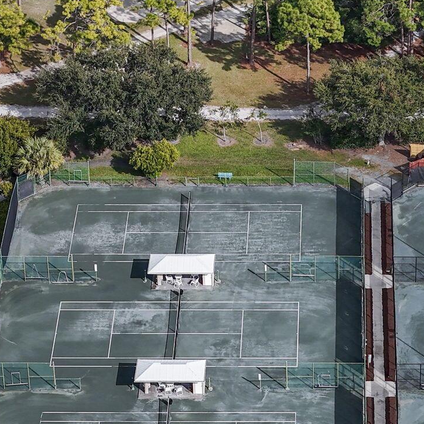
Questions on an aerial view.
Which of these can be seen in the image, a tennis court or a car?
tennis court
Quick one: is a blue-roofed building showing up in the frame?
No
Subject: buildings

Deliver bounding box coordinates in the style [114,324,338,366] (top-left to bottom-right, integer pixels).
[148,253,215,289]
[134,359,207,398]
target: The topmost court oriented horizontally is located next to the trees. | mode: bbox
[0,185,365,283]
